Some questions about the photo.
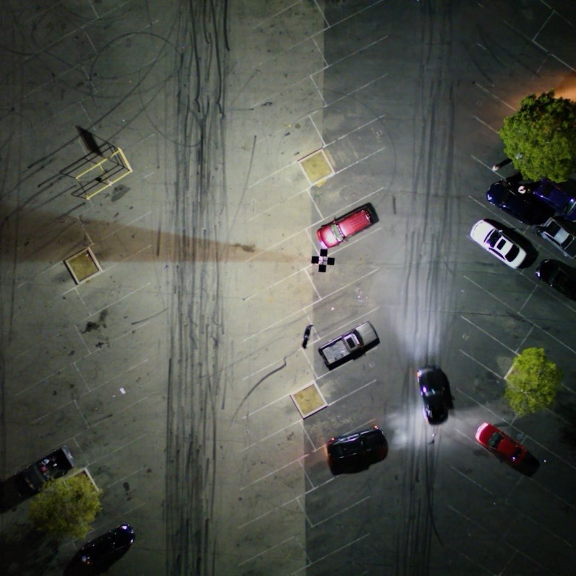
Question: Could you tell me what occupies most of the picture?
paved ground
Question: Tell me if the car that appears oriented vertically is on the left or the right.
right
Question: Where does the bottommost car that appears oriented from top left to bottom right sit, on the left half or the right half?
right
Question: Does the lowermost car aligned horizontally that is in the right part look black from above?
Yes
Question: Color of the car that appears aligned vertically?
black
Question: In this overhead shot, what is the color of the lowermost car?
black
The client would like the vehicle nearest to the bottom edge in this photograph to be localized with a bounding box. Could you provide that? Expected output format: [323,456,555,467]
[78,525,137,568]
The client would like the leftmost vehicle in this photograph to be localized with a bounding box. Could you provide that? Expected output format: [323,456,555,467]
[2,449,74,499]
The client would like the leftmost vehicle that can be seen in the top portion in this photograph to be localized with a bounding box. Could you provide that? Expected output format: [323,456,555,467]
[317,206,374,249]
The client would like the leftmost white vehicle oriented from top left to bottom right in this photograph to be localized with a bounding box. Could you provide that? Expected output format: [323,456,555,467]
[470,220,527,269]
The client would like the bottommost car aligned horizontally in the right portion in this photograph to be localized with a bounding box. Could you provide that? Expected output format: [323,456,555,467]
[327,428,387,465]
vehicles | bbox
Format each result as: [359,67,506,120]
[318,321,381,370]
[327,428,387,465]
[470,220,527,269]
[535,219,576,259]
[534,258,576,300]
[2,449,74,499]
[485,180,549,227]
[532,176,576,221]
[317,206,374,249]
[476,424,534,472]
[78,525,137,568]
[417,365,448,425]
